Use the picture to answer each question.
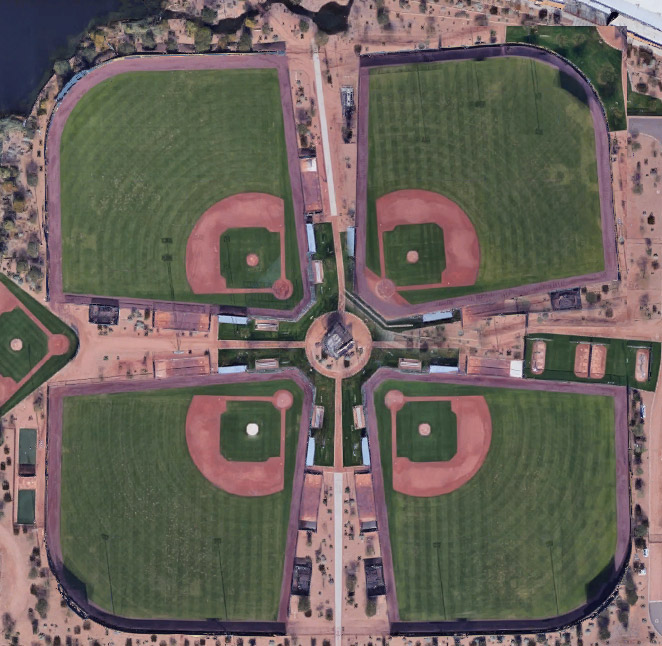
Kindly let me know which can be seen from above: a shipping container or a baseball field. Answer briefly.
baseball field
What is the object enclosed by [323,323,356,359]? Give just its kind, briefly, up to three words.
building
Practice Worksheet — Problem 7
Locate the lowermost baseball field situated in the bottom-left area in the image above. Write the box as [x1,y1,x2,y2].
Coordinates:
[45,369,312,634]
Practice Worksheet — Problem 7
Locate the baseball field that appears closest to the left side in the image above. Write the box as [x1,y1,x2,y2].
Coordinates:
[0,272,78,418]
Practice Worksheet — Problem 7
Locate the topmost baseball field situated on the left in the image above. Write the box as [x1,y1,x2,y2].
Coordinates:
[45,54,310,317]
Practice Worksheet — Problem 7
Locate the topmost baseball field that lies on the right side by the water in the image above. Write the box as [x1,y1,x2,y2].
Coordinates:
[356,43,617,319]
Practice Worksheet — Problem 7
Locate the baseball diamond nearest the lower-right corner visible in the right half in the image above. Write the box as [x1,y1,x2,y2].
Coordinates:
[364,369,631,634]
